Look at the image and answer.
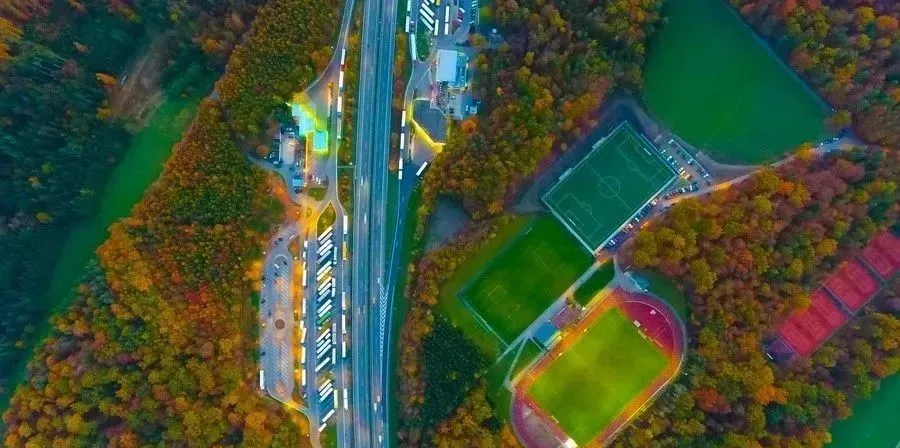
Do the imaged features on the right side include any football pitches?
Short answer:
Yes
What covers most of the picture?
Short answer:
trees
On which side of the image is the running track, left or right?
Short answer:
right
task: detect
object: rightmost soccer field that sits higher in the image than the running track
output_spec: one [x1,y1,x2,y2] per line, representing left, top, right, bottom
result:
[541,120,678,254]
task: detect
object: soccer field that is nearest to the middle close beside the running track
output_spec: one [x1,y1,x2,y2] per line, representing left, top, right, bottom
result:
[458,213,593,348]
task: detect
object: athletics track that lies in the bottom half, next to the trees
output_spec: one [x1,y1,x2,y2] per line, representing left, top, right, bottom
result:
[511,290,688,448]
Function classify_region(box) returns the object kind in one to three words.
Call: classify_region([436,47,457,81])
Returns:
building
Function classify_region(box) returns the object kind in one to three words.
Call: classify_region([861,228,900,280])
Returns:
tennis court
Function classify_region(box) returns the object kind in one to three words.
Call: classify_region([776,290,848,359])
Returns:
tennis court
